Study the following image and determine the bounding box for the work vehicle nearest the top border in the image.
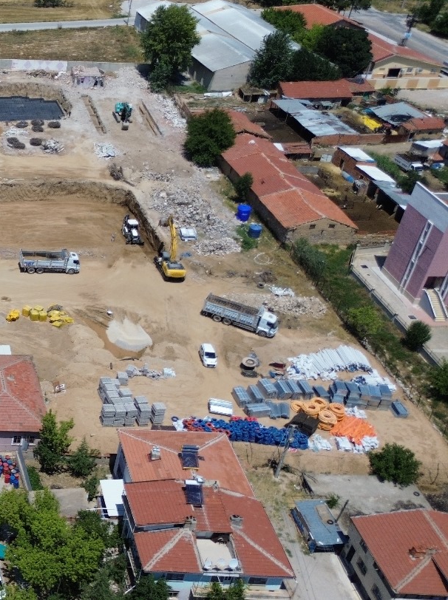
[115,106,132,123]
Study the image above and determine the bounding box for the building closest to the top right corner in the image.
[343,24,442,81]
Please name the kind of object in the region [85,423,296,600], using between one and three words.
house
